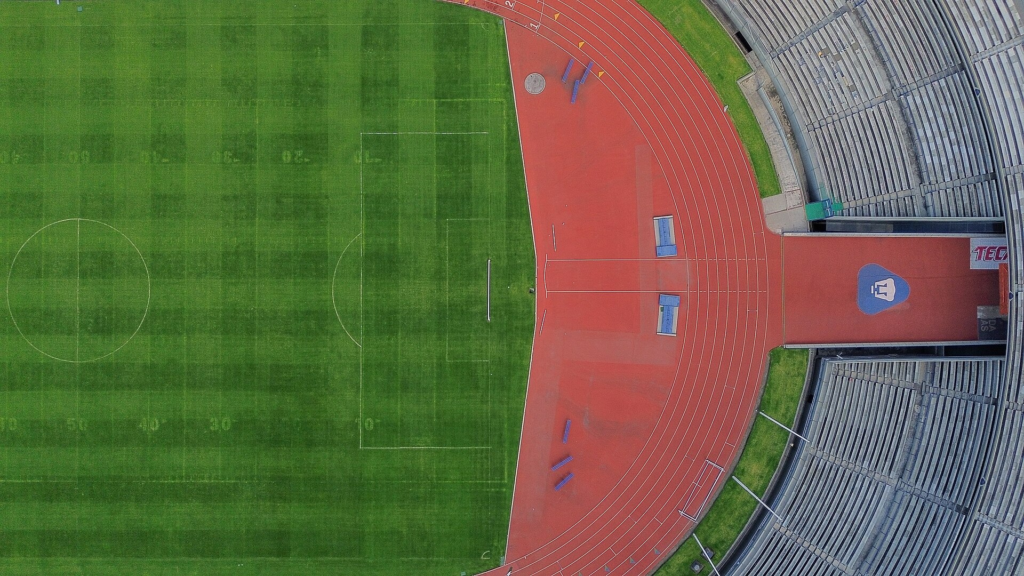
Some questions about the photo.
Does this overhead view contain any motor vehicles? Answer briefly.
No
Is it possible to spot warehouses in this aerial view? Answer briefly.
No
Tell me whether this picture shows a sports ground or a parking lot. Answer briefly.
sports ground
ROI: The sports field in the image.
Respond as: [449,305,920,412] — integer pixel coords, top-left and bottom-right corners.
[0,0,536,576]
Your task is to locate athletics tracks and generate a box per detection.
[428,0,768,576]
